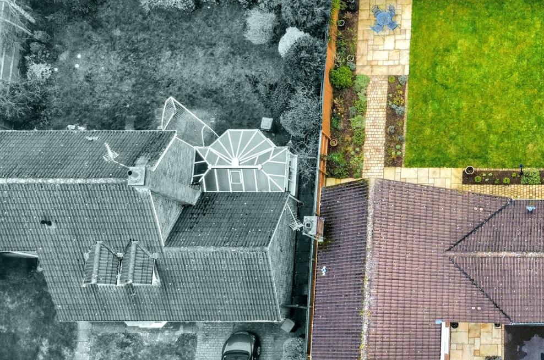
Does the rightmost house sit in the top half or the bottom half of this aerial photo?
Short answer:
bottom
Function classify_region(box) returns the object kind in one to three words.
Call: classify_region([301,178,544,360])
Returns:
house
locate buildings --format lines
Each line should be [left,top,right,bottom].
[301,178,544,360]
[0,127,302,332]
